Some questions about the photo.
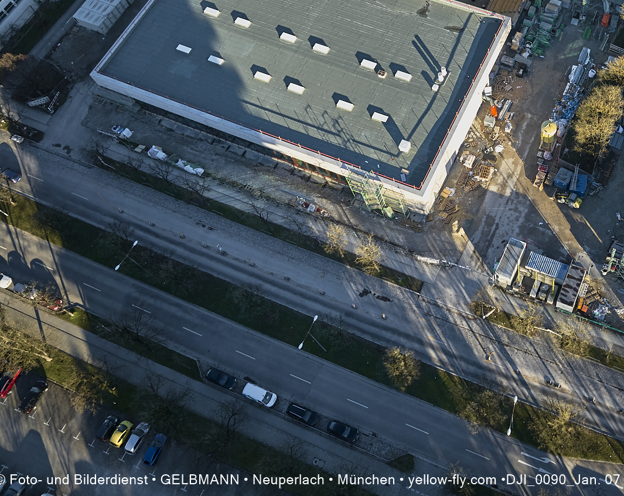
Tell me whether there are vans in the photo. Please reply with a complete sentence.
Yes, this view includes a van.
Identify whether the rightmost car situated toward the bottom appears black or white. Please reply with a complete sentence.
The rightmost car situated toward the bottom looks black in the image.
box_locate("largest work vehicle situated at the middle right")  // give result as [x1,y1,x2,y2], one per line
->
[544,190,583,214]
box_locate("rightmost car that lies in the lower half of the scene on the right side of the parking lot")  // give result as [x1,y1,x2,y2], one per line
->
[324,419,363,444]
